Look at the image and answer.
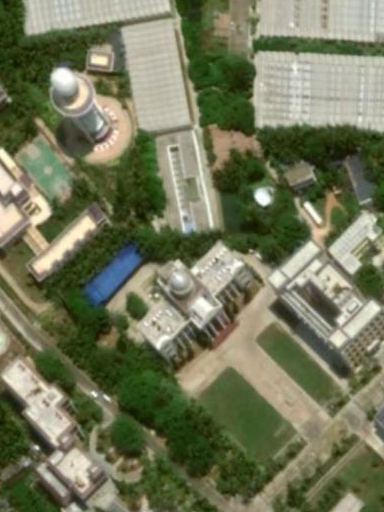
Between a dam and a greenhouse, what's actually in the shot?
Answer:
greenhouse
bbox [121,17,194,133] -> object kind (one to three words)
greenhouse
